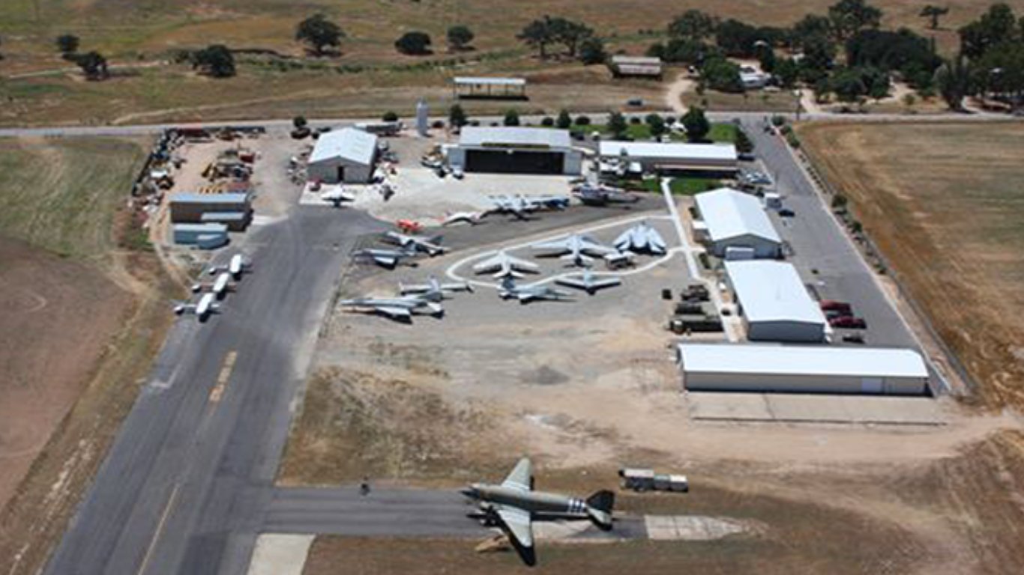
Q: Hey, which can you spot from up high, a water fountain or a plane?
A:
plane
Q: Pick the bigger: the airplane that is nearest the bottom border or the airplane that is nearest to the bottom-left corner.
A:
the airplane that is nearest the bottom border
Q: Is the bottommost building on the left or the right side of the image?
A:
right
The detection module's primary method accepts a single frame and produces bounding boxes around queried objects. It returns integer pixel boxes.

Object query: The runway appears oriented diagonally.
[46,205,384,575]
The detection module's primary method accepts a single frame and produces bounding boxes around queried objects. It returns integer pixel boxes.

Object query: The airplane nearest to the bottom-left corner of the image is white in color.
[172,295,224,319]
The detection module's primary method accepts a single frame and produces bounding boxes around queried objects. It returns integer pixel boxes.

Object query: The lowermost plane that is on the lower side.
[459,457,613,550]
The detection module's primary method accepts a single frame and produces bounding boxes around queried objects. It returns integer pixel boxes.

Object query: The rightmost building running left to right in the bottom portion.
[677,343,934,397]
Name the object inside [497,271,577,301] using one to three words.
airplane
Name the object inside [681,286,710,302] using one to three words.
vehicle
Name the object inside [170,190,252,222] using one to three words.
shed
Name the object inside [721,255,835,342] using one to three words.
building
